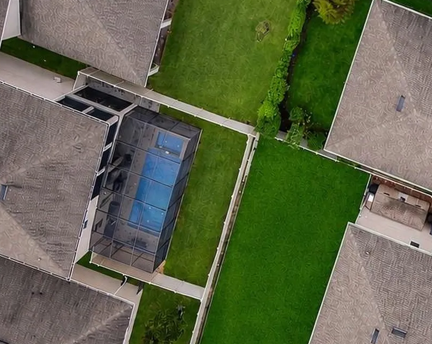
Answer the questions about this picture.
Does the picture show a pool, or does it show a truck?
pool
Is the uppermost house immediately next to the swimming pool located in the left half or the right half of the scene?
left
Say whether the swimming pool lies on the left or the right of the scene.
left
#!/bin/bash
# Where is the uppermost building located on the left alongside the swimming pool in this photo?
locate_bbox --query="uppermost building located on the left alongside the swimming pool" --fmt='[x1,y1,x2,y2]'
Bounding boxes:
[18,0,177,86]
